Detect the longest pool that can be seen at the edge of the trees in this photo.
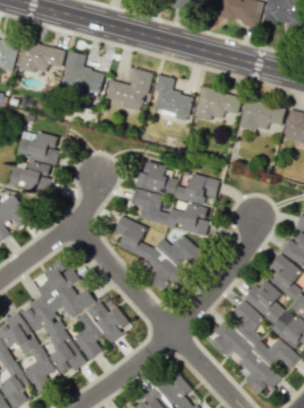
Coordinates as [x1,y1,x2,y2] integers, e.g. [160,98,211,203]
[22,77,44,90]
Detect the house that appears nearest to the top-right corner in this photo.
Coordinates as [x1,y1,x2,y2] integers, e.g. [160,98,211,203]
[262,0,301,30]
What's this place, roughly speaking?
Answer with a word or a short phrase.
residential area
